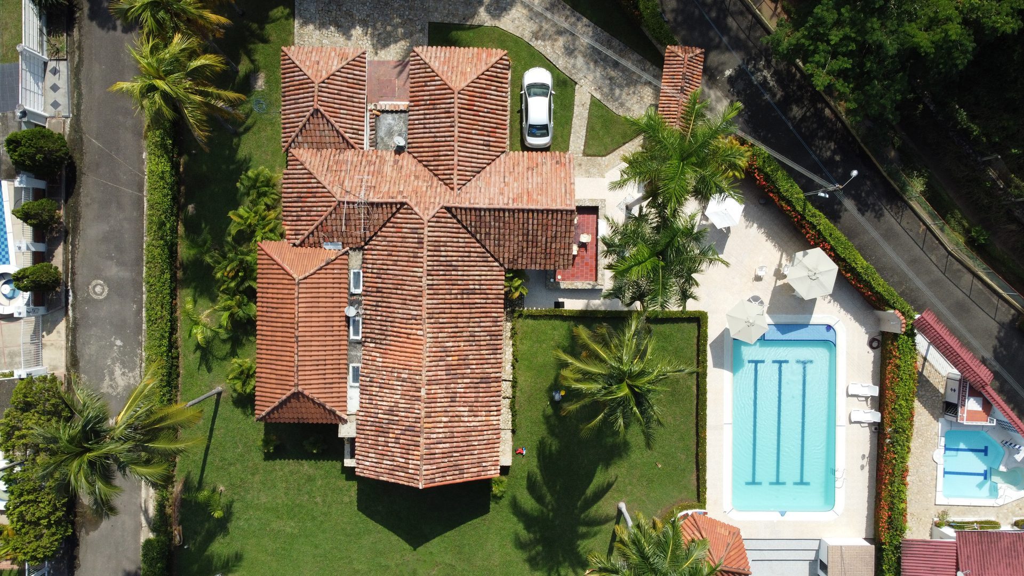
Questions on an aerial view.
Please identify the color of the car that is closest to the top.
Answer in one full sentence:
The color of the car that is closest to the top is white.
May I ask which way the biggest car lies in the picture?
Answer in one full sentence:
The biggest car is laid out up and down.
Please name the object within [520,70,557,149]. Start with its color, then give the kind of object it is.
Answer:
white car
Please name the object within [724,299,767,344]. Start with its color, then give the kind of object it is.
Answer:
white umbrella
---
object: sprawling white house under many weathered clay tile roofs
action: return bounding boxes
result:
[251,43,577,491]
